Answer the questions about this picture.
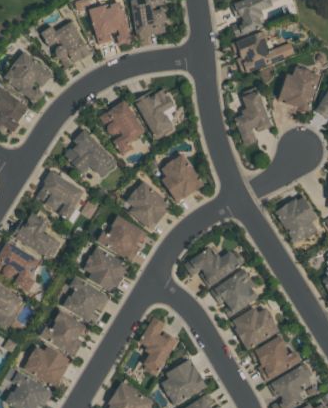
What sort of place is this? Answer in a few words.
residential area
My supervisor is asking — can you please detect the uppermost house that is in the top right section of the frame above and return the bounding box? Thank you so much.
[234,0,280,36]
